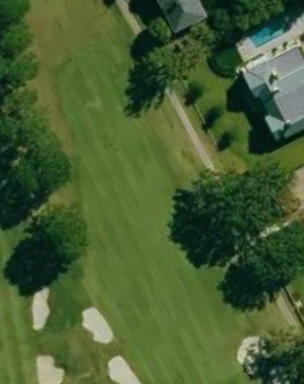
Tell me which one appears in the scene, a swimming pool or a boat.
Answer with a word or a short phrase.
swimming pool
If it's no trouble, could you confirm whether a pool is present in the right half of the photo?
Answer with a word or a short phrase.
Yes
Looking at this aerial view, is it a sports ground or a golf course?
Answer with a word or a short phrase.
golf course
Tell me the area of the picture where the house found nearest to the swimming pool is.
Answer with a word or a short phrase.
top right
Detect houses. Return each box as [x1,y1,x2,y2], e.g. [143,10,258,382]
[159,0,205,32]
[240,37,304,140]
